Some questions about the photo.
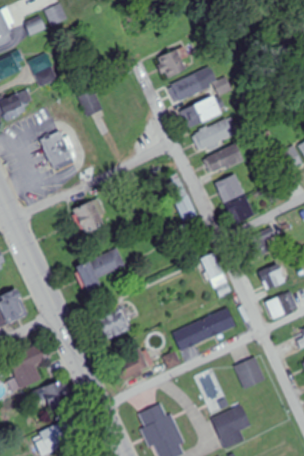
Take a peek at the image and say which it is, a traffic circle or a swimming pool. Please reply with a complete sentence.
The image shows a swimming pool.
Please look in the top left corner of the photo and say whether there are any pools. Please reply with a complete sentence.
No, I can find no pool in the top left corner of the photo.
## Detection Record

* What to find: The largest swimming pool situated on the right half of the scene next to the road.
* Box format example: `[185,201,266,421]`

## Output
[193,368,230,416]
